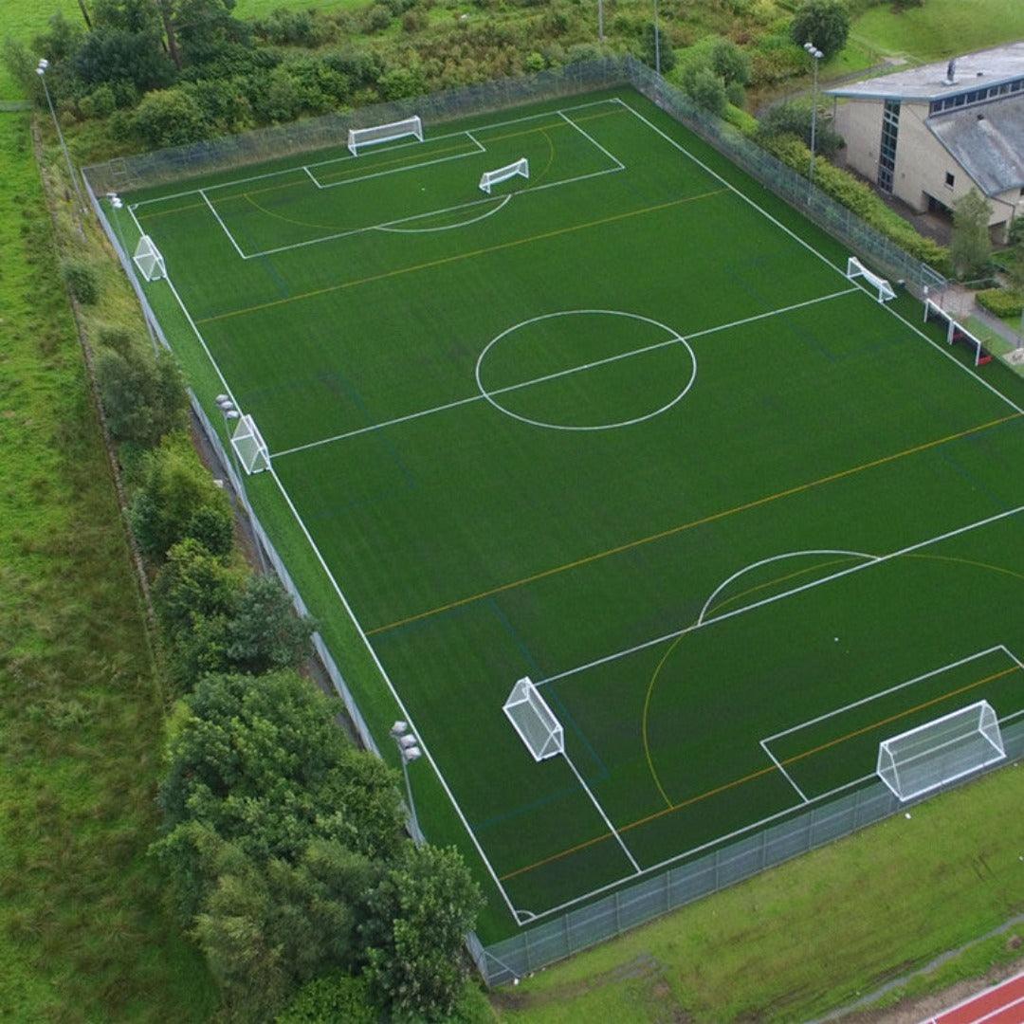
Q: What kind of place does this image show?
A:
sports ground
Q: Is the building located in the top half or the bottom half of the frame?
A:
top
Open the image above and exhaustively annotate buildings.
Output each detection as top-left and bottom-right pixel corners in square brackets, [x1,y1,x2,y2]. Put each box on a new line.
[818,50,1024,244]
